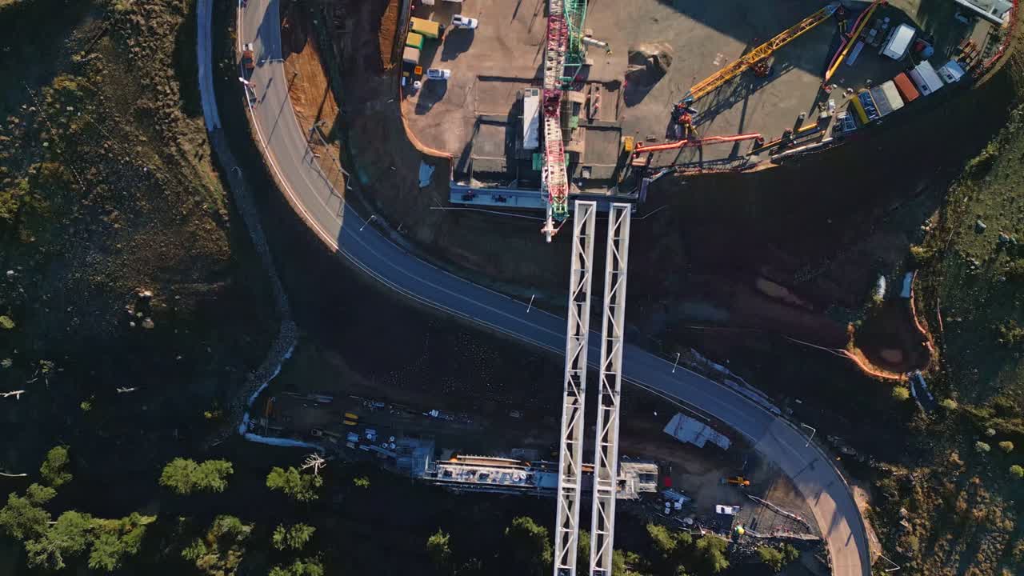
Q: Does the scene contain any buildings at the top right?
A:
Yes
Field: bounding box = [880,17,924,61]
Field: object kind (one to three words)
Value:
building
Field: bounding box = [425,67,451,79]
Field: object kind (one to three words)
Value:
vehicle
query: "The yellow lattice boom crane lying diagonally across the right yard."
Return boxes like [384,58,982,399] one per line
[671,4,842,138]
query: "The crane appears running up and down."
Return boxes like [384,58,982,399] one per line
[541,0,595,242]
